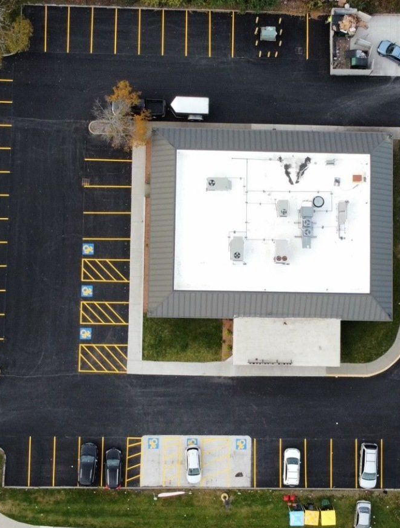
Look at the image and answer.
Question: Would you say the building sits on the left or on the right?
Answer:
right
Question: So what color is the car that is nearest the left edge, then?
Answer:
black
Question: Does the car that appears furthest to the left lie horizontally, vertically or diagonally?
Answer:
vertically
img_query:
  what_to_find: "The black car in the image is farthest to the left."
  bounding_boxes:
[79,442,99,487]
